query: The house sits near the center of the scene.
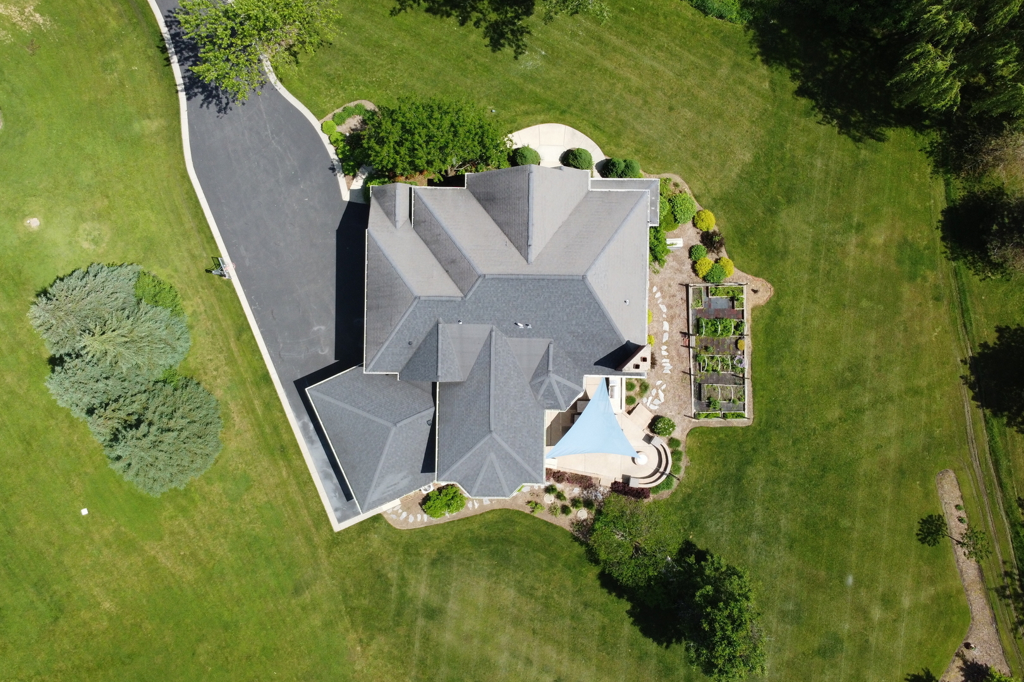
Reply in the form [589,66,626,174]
[304,163,662,515]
